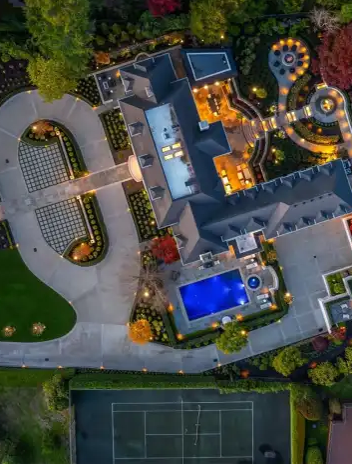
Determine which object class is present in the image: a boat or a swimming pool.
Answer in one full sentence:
I can see a swimming pool in this picture.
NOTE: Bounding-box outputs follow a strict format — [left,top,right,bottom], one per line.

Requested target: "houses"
[118,48,352,266]
[322,396,352,464]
